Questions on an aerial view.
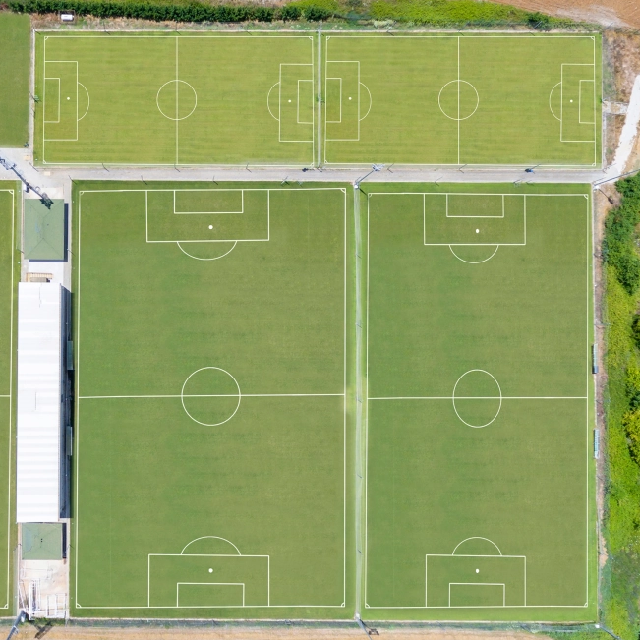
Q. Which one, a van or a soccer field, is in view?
soccer field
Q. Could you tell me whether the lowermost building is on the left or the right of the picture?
left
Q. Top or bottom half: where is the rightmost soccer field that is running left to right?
top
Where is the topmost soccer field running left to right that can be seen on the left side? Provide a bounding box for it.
[36,32,318,166]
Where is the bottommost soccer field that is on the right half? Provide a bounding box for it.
[358,183,599,622]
